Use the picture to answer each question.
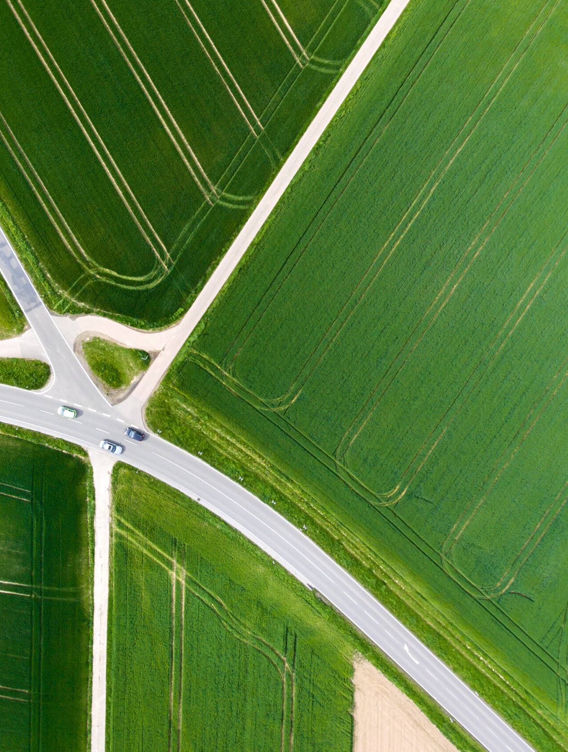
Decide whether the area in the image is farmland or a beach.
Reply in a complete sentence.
This image shows farmland.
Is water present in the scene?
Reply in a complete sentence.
No, water can't be seen anywhere here.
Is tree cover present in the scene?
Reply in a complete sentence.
No, no tree cover is visible.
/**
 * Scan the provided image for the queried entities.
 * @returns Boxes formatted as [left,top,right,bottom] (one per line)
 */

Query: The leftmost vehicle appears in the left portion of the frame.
[57,406,77,419]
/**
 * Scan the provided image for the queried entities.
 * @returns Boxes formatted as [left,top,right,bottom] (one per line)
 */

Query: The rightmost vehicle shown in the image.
[124,427,146,443]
